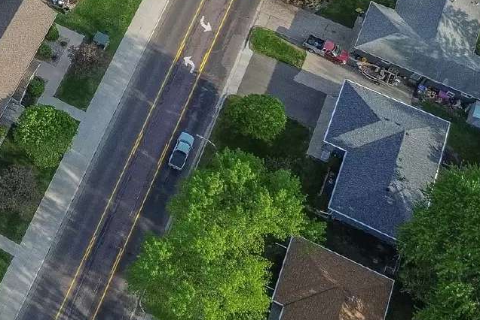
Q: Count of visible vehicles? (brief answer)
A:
2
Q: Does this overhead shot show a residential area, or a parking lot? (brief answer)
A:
residential area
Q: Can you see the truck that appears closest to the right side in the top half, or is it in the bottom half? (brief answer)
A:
top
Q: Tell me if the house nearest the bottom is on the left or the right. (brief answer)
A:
right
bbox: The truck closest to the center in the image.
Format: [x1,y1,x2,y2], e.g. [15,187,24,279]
[164,127,198,176]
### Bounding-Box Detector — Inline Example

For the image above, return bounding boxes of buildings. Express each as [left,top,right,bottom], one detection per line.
[0,0,59,119]
[320,79,449,251]
[349,0,480,105]
[264,241,382,320]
